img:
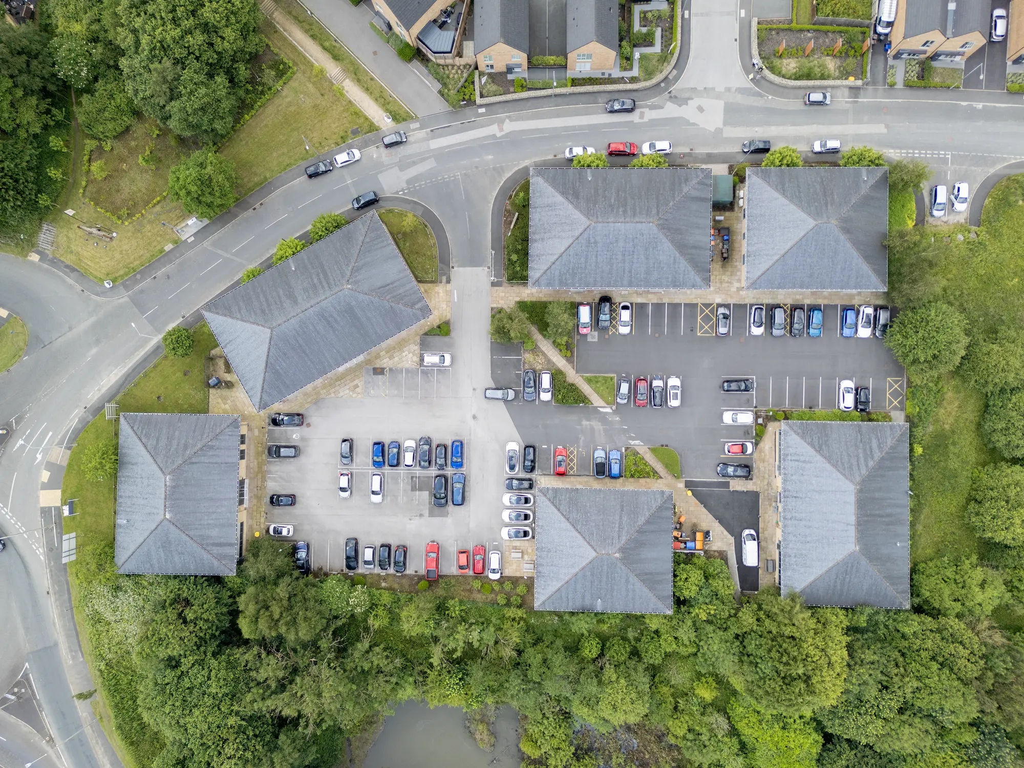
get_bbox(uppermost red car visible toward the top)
[607,140,638,156]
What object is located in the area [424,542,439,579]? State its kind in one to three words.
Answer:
vehicle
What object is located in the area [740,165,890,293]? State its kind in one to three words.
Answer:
building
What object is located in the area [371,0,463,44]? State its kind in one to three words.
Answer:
house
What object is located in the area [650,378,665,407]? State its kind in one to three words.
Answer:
car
